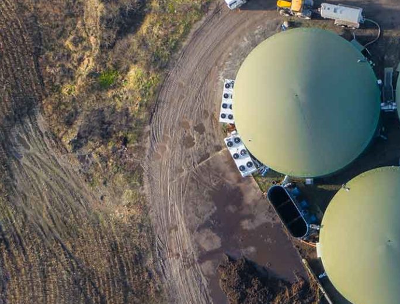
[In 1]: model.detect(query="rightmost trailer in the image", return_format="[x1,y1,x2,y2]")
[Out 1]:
[312,4,365,30]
